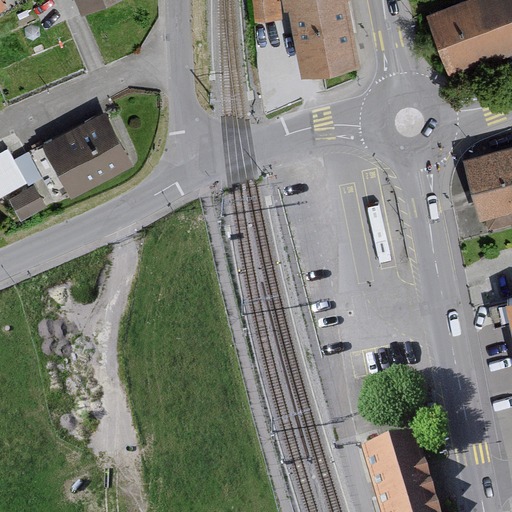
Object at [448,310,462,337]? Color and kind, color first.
white vehicle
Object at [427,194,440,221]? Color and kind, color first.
white vehicle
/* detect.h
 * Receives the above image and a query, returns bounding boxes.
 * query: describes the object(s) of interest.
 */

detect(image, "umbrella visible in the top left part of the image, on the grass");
[25,24,40,40]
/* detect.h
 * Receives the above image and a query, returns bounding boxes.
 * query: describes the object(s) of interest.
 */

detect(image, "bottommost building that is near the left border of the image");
[9,185,47,222]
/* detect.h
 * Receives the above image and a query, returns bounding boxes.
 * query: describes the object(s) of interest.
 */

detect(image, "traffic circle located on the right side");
[394,106,425,138]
